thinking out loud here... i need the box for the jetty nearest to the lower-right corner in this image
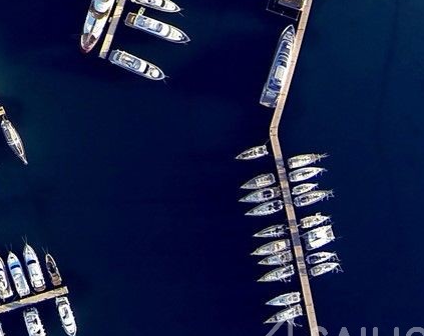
[268,0,318,336]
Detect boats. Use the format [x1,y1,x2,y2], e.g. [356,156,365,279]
[254,264,295,284]
[84,0,118,50]
[130,0,186,13]
[286,154,329,168]
[299,215,331,229]
[292,190,339,207]
[302,225,341,250]
[288,168,331,181]
[9,252,30,301]
[2,117,29,168]
[263,306,305,328]
[252,223,287,238]
[260,292,301,309]
[25,244,47,292]
[262,17,299,110]
[107,48,166,79]
[245,199,284,216]
[237,172,276,191]
[237,146,269,160]
[237,187,281,202]
[57,296,78,336]
[305,251,341,265]
[24,307,47,336]
[47,255,60,286]
[251,239,292,256]
[0,258,14,303]
[119,14,199,45]
[259,250,294,266]
[309,262,345,276]
[290,183,322,195]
